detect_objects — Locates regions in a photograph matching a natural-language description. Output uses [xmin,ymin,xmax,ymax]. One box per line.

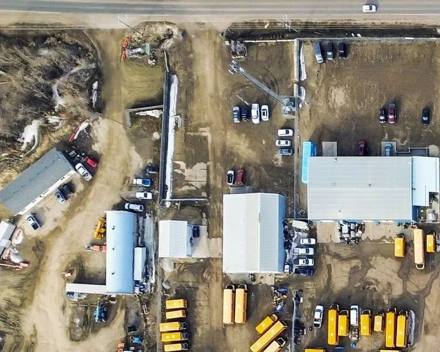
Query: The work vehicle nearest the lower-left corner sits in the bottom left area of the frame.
[94,303,109,321]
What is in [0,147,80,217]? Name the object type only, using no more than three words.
building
